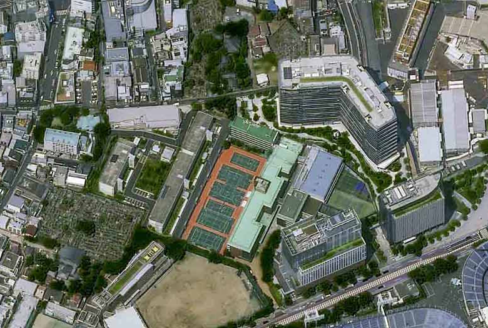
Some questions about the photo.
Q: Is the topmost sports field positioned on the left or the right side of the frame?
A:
right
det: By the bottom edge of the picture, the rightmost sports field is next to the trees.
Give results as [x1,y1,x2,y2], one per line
[138,253,265,328]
